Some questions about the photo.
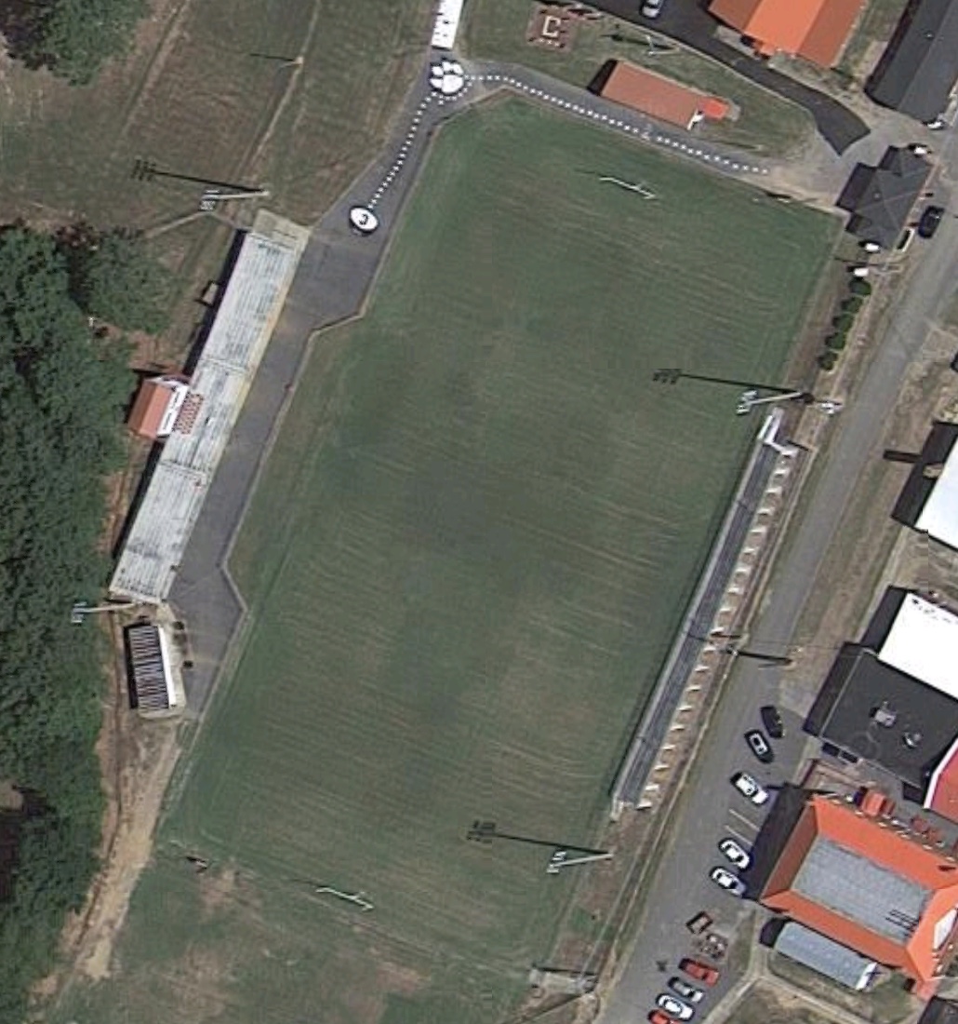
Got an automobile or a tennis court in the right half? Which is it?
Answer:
automobile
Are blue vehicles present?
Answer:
No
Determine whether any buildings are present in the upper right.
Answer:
Yes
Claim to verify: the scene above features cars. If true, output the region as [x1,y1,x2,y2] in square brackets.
[746,728,772,763]
[720,838,752,868]
[683,958,718,985]
[763,703,784,739]
[735,774,767,804]
[713,866,745,895]
[671,978,703,1002]
[921,203,945,239]
[658,994,691,1021]
[648,1010,679,1024]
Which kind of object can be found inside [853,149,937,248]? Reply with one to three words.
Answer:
building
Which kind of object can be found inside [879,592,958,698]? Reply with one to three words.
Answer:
building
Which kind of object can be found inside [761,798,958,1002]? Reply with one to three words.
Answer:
house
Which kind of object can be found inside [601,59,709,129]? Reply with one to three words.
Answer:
shed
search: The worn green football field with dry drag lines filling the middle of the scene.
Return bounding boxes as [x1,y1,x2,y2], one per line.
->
[158,95,842,970]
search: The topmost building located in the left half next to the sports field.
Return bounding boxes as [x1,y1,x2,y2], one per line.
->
[129,625,177,709]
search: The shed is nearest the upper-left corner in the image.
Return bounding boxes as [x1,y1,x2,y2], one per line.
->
[202,283,223,304]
